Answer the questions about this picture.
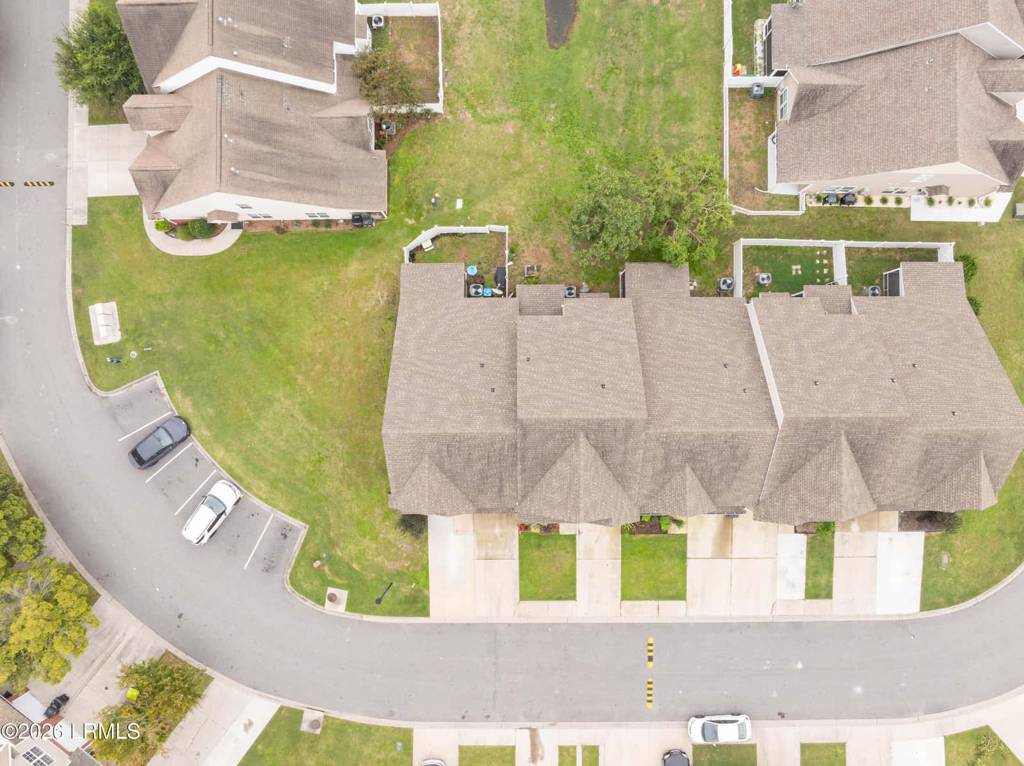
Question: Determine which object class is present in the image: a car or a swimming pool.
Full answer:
I can see a car in this picture.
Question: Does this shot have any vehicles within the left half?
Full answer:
Yes, within the left half there is a vehicle.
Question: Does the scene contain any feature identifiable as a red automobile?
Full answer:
No, I find no red automobile anywhere in the image.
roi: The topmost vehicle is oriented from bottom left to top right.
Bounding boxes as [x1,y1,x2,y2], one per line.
[127,419,196,472]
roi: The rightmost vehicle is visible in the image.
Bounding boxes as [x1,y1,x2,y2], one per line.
[687,713,753,749]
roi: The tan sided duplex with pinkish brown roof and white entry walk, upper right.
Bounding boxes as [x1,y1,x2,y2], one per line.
[761,0,1024,204]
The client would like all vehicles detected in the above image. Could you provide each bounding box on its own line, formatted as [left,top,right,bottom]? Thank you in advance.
[127,419,196,472]
[182,479,246,547]
[42,693,70,720]
[662,749,690,766]
[687,713,753,749]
